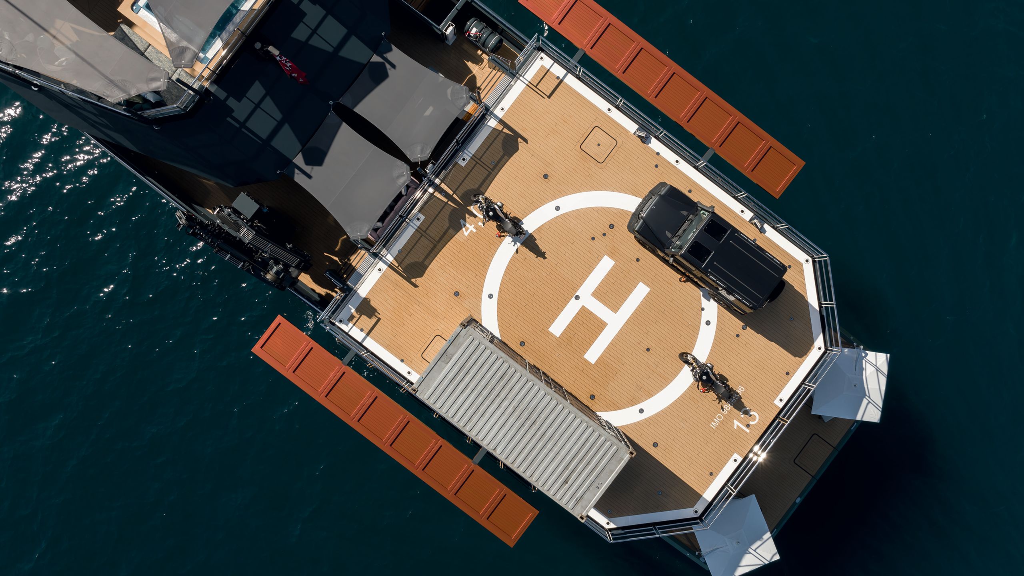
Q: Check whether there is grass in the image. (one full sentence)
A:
No, there is no grass in the image.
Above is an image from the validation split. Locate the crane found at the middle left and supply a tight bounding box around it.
[174,192,316,297]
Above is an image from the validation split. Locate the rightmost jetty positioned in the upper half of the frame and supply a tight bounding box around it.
[519,0,806,200]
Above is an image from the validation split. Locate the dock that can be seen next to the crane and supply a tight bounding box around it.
[252,315,538,547]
